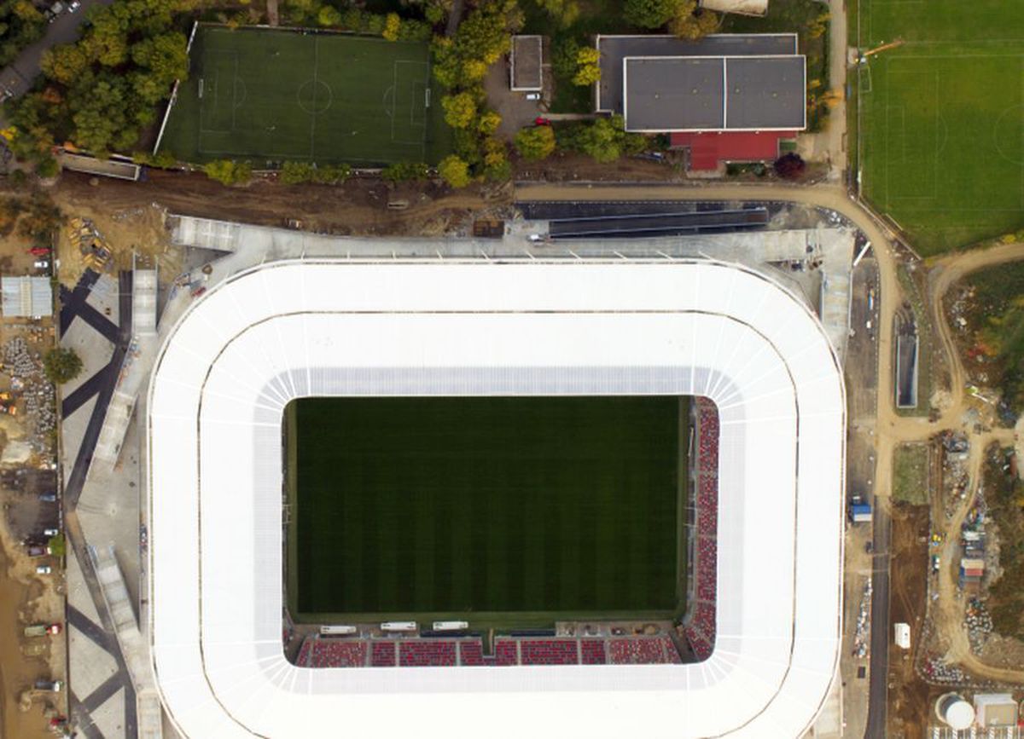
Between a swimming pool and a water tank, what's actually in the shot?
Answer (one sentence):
Of the two, only a water tank appears.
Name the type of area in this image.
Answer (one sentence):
This looks like a sports ground.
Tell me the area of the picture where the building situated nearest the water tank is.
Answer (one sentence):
You can find the building situated nearest the water tank in the bottom right area of the picture.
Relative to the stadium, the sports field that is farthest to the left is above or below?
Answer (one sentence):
The sports field that is farthest to the left is found above the stadium in the photo.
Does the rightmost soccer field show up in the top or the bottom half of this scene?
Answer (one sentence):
The rightmost soccer field sits in the top half of the picture.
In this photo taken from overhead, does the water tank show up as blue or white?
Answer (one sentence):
The color of the water tank is white.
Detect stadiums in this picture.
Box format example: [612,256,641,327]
[152,248,847,739]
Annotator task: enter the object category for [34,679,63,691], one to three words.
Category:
vehicle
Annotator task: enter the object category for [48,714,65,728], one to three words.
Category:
work vehicle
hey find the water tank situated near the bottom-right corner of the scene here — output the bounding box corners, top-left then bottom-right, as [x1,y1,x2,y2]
[935,692,973,731]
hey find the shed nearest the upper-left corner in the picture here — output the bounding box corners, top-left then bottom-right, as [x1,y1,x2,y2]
[61,150,142,180]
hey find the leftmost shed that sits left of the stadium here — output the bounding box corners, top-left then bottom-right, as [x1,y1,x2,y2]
[2,275,54,317]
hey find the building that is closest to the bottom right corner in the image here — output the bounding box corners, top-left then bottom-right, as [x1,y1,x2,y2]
[975,693,1016,727]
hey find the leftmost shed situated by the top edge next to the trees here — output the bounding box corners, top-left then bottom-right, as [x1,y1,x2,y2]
[509,35,543,90]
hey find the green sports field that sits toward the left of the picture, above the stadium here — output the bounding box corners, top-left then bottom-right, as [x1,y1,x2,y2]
[157,24,455,172]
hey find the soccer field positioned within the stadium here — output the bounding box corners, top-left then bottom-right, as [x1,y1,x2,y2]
[289,395,688,625]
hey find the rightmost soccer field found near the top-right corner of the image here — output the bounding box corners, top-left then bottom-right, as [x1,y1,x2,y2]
[857,0,1024,258]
